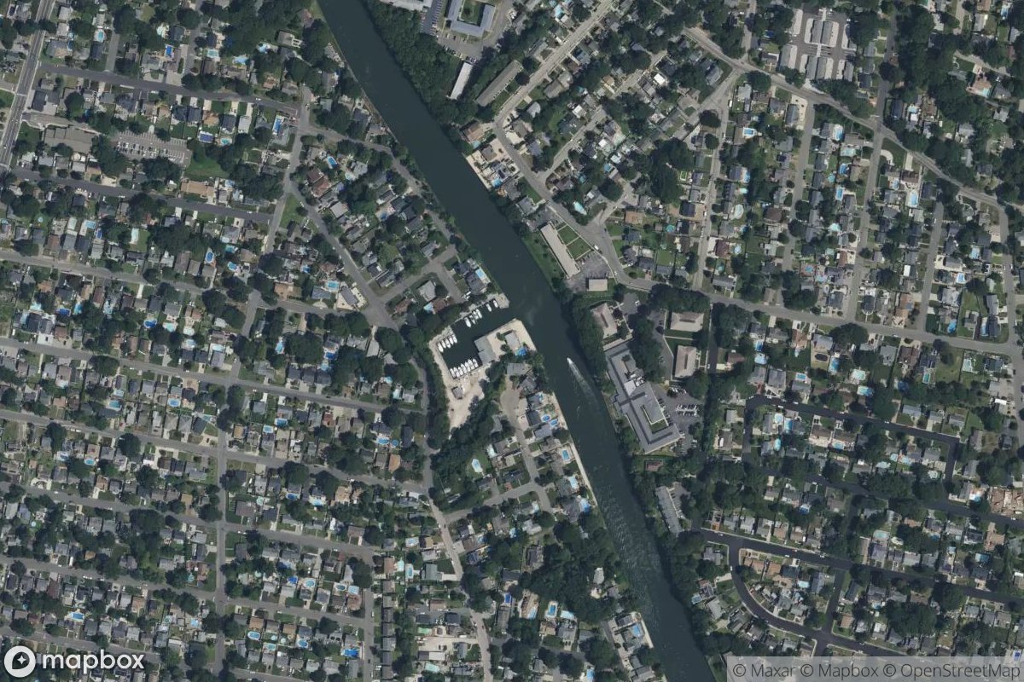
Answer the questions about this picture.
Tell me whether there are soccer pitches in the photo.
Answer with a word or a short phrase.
No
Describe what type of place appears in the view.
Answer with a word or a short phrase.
residential area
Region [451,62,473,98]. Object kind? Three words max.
shed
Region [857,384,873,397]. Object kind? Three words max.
swimming pool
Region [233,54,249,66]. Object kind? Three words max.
swimming pool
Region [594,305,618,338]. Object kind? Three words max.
building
